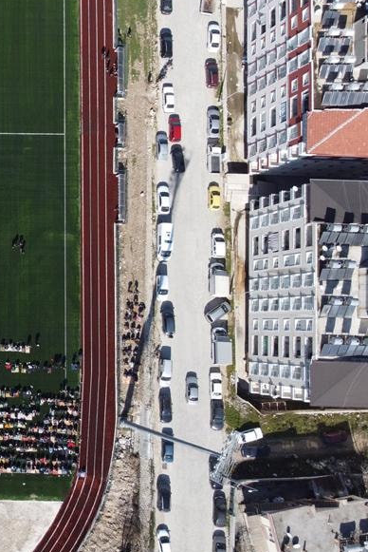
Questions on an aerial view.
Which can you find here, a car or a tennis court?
car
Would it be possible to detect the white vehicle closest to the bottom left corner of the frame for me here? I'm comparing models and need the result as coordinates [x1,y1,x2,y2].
[156,525,172,552]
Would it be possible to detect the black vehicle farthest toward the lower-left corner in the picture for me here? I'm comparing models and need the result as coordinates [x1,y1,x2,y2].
[156,477,172,510]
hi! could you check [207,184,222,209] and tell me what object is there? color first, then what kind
yellow car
